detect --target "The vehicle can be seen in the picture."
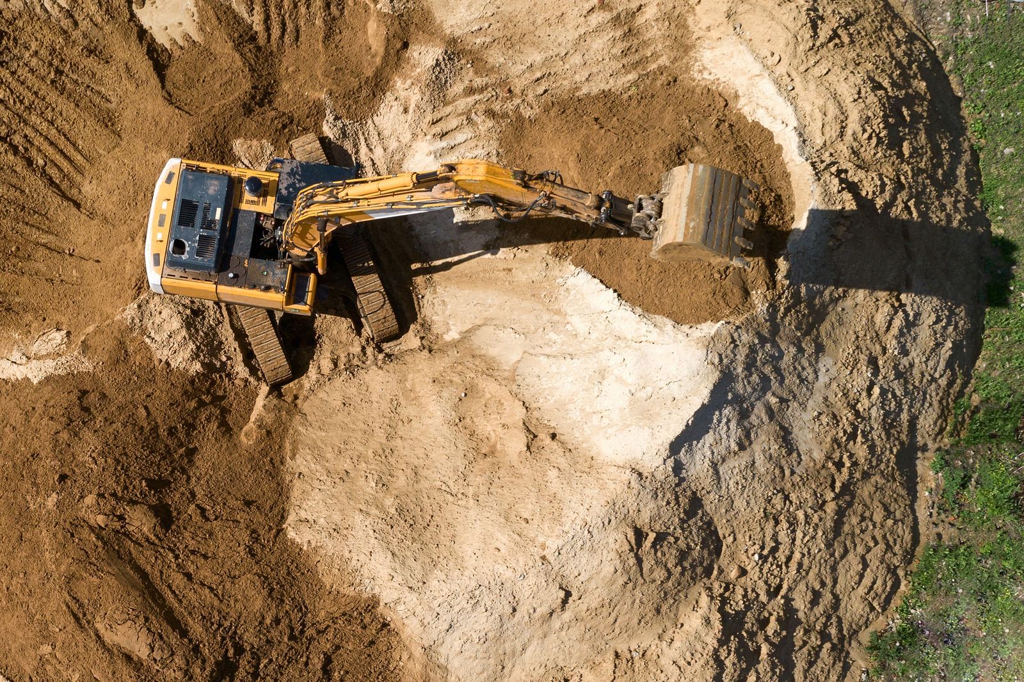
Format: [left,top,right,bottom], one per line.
[145,129,761,394]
